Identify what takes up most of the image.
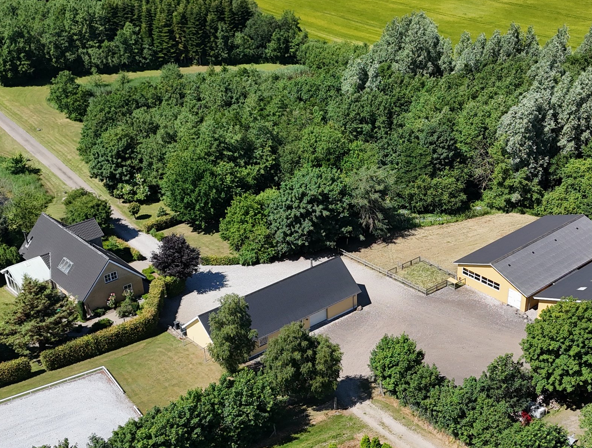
trees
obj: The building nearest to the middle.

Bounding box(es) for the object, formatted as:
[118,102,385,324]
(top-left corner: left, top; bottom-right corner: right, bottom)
[181,255,362,368]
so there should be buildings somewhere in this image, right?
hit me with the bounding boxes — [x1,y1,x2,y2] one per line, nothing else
[452,211,592,310]
[181,255,362,368]
[0,216,147,321]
